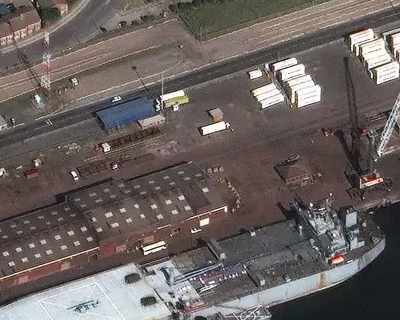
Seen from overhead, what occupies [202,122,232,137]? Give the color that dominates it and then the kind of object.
white vehicle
